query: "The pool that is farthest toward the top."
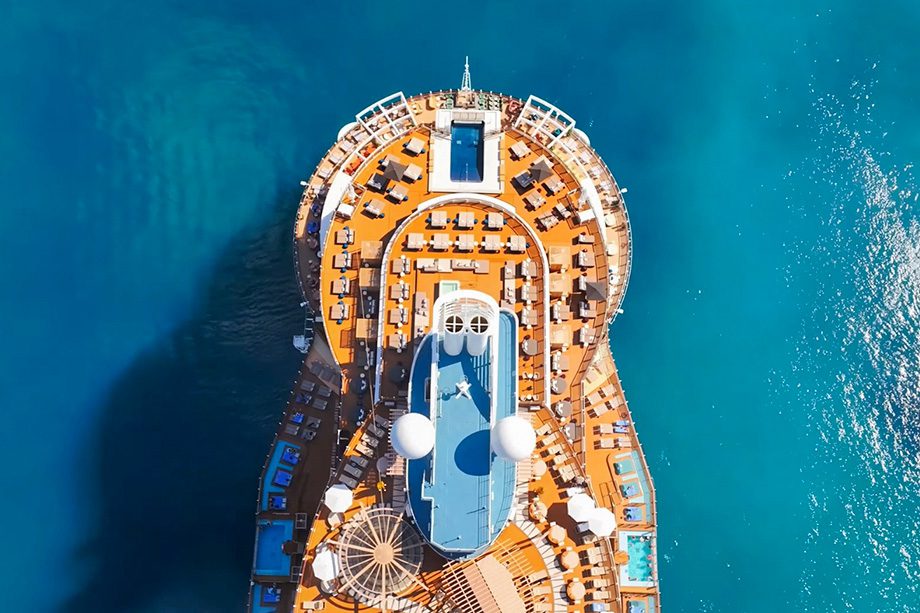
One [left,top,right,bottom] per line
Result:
[427,109,506,194]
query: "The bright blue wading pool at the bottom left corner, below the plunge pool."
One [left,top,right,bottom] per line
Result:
[252,585,288,613]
